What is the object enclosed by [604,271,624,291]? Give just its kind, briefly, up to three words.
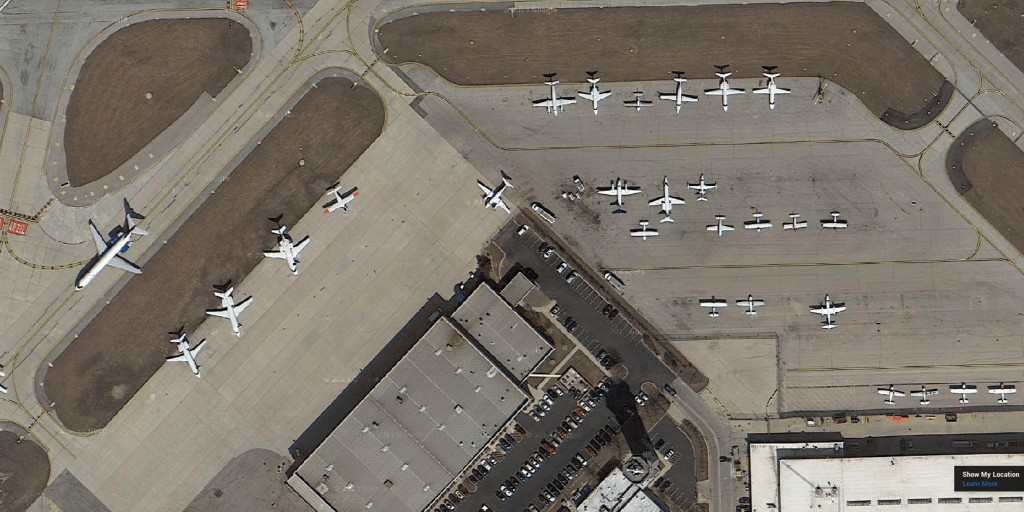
vehicle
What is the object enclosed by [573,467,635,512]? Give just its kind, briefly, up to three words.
building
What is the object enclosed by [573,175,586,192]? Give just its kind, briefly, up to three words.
vehicle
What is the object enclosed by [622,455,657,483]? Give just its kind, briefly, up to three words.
building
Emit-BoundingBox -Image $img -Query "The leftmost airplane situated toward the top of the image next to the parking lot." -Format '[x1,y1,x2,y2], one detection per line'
[478,177,512,211]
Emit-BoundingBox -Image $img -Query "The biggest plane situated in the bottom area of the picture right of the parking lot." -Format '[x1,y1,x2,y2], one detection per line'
[810,296,847,329]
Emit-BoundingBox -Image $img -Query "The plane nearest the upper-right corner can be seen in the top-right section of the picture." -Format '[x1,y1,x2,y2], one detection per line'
[752,72,792,109]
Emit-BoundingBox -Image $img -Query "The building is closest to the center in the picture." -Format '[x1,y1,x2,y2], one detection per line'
[500,273,536,306]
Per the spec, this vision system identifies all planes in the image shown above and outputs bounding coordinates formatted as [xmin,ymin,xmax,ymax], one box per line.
[597,180,641,214]
[207,289,251,337]
[699,297,727,316]
[76,215,148,290]
[660,78,698,114]
[649,179,685,221]
[478,177,512,211]
[810,296,847,329]
[950,384,977,403]
[624,93,653,112]
[264,225,308,275]
[988,384,1016,403]
[744,213,772,233]
[533,81,576,115]
[631,222,658,241]
[704,74,745,111]
[706,218,734,236]
[577,79,610,115]
[168,336,205,378]
[737,296,765,315]
[688,174,716,203]
[752,72,792,109]
[877,386,905,405]
[322,186,356,212]
[910,386,938,405]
